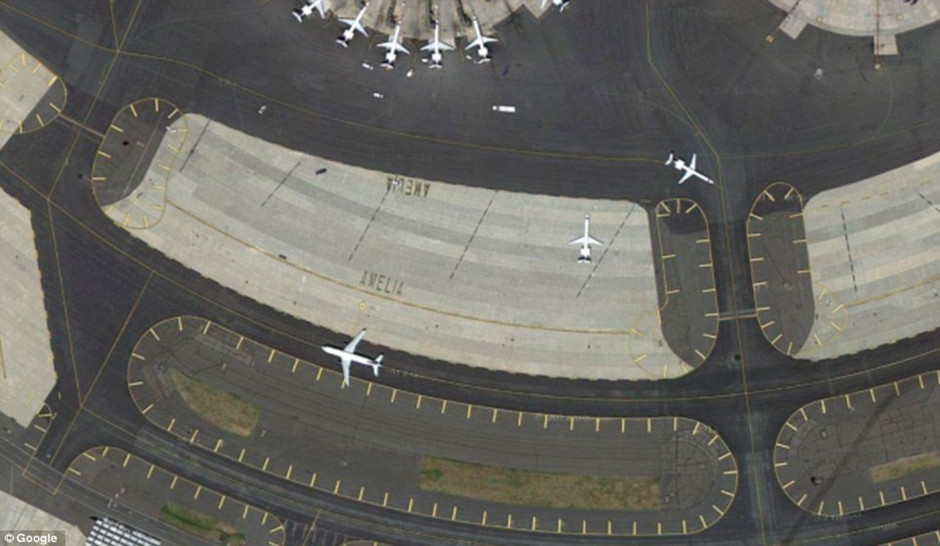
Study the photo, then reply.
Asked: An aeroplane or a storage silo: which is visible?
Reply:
aeroplane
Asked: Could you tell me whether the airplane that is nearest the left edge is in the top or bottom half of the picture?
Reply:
top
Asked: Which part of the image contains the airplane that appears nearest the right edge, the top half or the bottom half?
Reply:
top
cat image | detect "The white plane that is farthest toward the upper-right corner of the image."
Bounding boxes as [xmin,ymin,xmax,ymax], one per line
[667,152,713,184]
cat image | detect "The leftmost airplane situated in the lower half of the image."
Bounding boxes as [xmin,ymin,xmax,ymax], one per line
[322,329,382,387]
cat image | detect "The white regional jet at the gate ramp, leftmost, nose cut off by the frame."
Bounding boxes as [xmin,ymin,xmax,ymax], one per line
[293,0,325,21]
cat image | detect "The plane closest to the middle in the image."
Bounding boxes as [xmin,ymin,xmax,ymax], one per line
[568,215,603,263]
